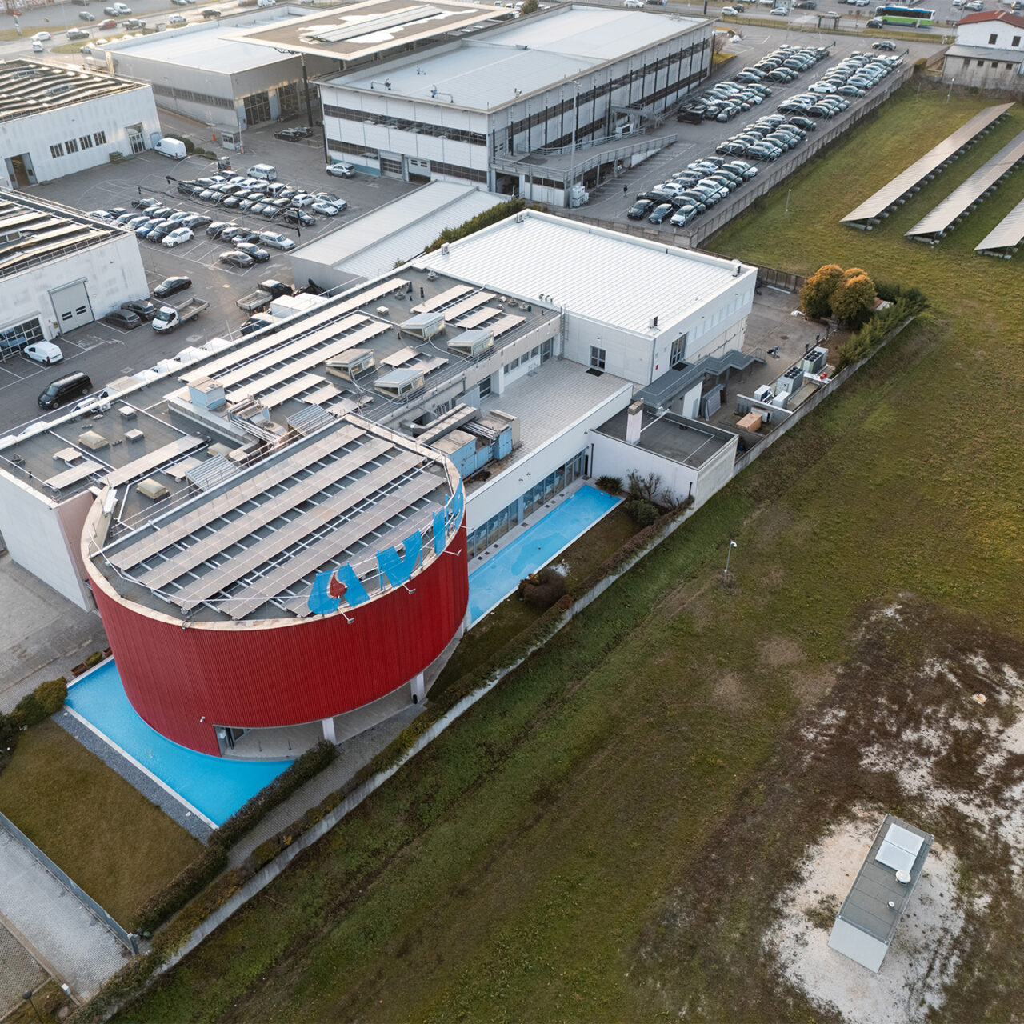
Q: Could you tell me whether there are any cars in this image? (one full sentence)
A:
Yes, the image includes a car.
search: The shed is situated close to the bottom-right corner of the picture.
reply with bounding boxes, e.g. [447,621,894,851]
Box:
[824,814,940,969]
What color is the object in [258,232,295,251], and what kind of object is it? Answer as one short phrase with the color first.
gray car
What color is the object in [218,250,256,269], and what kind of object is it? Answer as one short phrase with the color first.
gray car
